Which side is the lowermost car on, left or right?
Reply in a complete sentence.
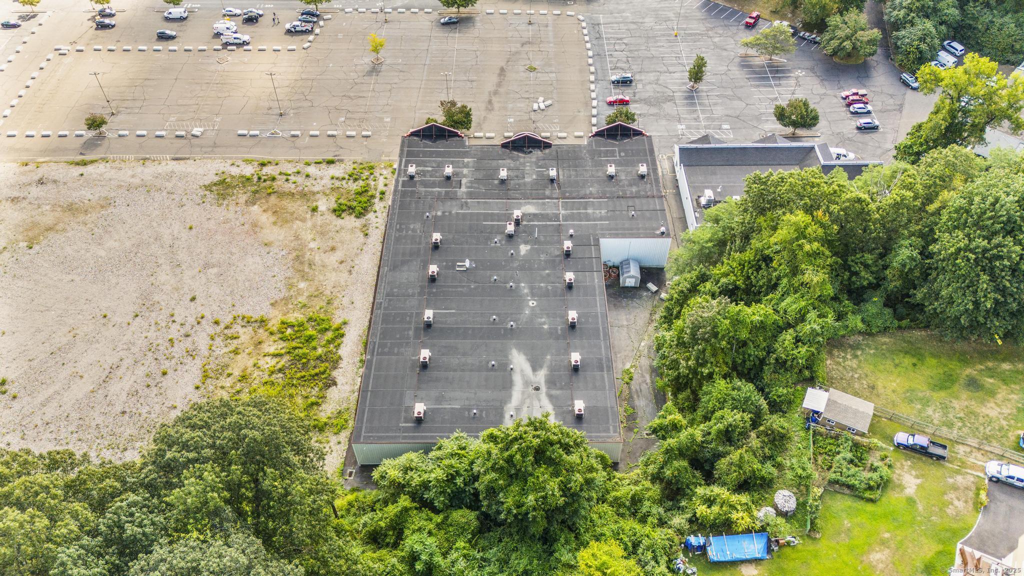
The lowermost car appears in the right half of the scene.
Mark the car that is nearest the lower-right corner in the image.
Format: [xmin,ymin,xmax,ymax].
[983,460,1024,487]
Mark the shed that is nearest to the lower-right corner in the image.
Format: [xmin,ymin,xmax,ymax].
[821,389,874,439]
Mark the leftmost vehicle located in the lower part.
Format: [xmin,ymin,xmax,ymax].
[895,433,948,460]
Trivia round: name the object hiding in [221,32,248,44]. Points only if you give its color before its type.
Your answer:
white vehicle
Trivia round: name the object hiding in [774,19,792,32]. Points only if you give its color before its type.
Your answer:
white vehicle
